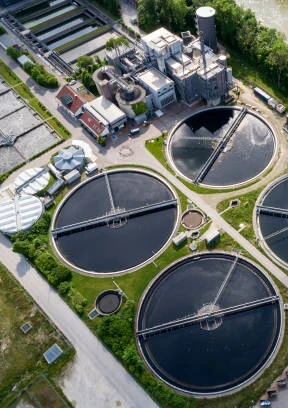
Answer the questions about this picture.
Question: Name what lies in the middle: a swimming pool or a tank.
tank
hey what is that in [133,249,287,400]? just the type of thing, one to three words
storage tank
